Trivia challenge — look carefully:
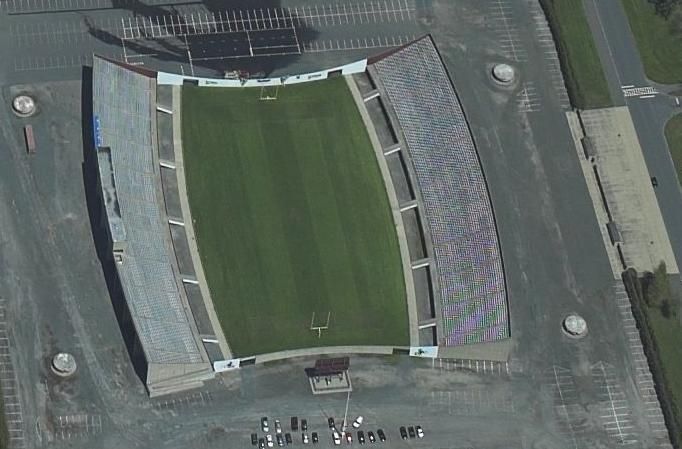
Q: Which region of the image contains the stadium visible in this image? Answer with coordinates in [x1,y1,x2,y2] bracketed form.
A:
[91,34,512,398]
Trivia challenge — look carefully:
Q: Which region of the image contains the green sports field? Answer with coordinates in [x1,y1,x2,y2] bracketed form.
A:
[172,74,420,371]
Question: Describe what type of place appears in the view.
sports ground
